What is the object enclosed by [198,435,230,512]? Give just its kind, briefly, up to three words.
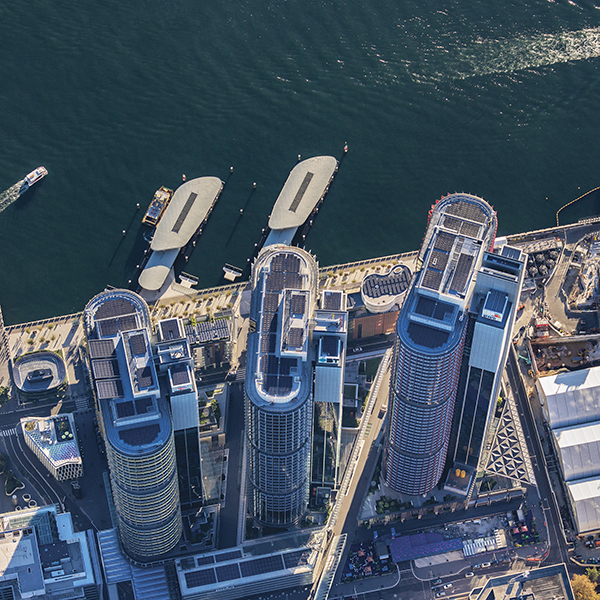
building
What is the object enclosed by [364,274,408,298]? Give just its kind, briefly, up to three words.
solar array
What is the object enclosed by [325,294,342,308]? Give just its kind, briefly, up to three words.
solar array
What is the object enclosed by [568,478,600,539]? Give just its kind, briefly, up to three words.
shed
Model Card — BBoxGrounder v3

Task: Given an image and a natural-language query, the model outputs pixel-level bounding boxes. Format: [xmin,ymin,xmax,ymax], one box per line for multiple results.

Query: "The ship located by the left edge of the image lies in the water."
[25,168,47,186]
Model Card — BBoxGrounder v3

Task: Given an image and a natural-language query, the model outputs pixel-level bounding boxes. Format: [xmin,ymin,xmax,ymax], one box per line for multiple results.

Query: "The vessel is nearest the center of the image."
[142,186,172,227]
